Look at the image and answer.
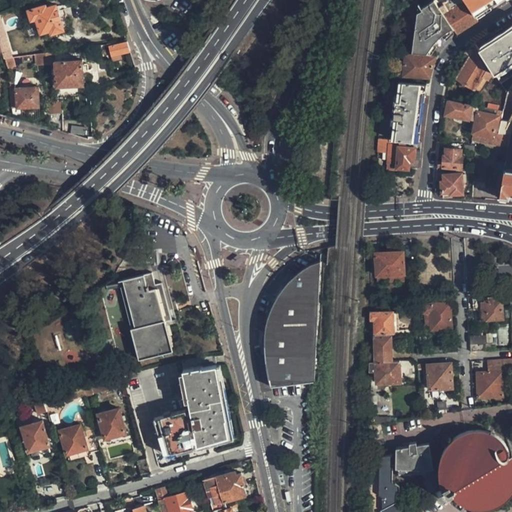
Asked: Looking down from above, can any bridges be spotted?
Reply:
Yes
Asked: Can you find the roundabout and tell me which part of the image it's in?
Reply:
center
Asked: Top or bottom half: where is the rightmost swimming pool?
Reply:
bottom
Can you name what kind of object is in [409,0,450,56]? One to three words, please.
building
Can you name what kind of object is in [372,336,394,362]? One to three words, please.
house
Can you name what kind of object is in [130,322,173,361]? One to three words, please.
building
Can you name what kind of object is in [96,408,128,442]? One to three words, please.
house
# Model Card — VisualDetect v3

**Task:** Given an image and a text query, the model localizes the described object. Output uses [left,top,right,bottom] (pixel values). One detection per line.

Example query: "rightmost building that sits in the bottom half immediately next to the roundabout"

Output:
[265,262,320,386]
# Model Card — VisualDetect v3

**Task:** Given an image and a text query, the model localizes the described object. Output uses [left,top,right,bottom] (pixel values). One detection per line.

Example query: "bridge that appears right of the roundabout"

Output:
[324,193,369,256]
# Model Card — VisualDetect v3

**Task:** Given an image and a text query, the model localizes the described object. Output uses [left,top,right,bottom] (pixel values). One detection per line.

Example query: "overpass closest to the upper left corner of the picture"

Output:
[0,0,274,278]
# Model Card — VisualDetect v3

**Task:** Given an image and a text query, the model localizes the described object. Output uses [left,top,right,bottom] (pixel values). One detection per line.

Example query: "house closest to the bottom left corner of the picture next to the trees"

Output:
[19,420,52,456]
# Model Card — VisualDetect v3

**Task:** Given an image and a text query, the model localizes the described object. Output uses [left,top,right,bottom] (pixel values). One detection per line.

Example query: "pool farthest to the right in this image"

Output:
[61,402,84,424]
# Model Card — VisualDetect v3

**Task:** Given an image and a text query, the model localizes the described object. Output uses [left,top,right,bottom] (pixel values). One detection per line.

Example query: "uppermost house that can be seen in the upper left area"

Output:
[25,5,66,37]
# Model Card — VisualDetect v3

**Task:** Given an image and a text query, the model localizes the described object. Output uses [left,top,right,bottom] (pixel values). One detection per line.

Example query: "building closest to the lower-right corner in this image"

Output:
[434,426,512,512]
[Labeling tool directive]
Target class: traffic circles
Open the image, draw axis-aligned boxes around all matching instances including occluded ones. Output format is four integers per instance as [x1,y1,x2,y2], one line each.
[203,165,289,251]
